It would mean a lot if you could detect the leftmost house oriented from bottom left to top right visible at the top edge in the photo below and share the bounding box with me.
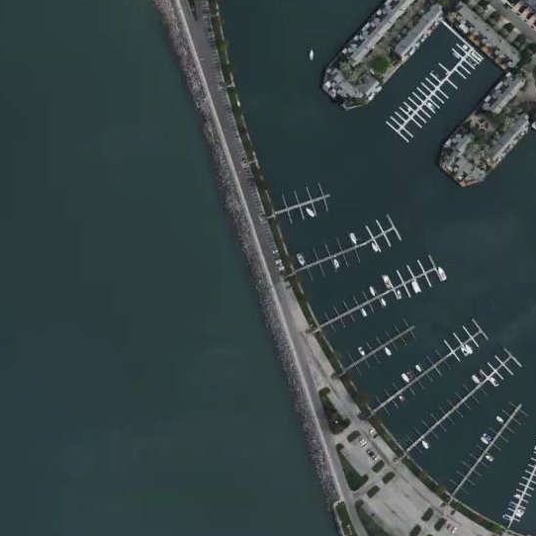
[336,0,411,66]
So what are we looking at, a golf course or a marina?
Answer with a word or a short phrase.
marina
